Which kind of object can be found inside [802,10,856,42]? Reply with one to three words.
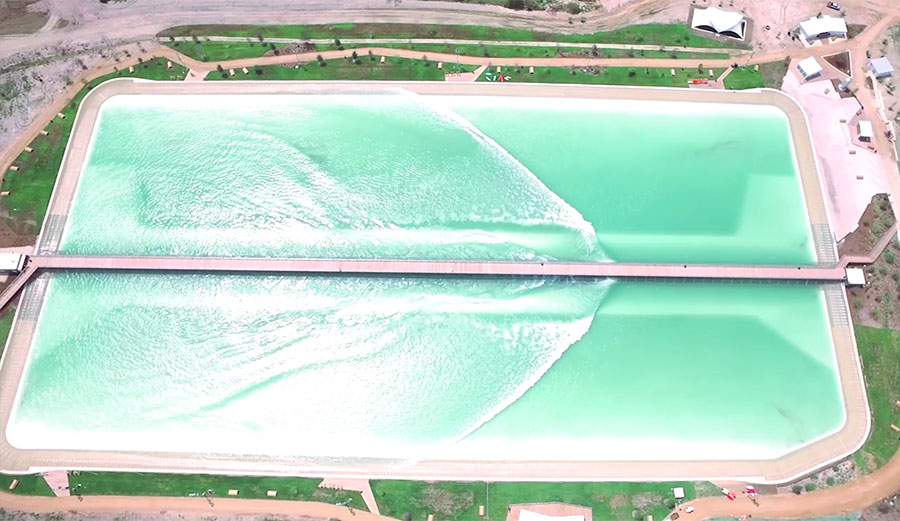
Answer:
building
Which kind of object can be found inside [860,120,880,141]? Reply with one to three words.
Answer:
shed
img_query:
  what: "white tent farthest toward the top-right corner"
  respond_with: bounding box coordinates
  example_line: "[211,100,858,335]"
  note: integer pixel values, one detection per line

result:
[691,11,748,42]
